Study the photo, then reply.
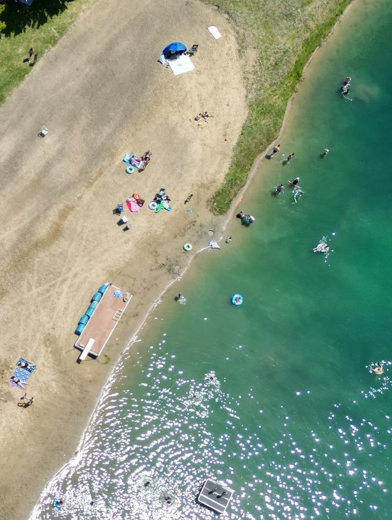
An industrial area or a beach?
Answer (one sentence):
This image shows a beach.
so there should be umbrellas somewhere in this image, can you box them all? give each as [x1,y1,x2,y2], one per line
[164,37,190,53]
